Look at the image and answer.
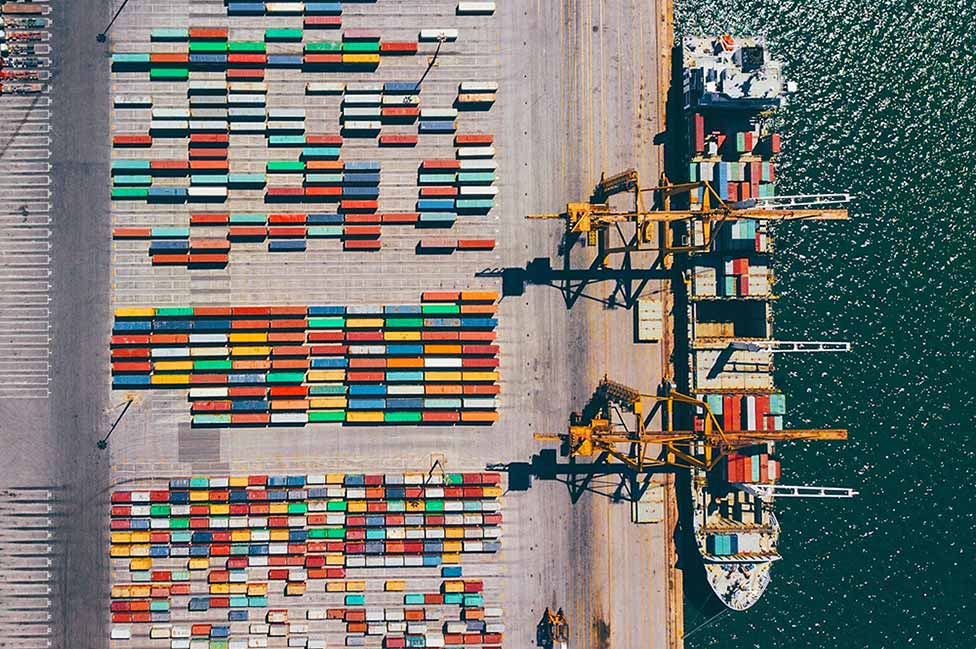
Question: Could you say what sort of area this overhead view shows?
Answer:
port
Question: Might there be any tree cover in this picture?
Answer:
No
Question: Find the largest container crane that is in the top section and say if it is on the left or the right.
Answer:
right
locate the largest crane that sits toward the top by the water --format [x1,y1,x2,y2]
[532,163,851,272]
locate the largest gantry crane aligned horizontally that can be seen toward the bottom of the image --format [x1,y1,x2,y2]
[532,369,851,475]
